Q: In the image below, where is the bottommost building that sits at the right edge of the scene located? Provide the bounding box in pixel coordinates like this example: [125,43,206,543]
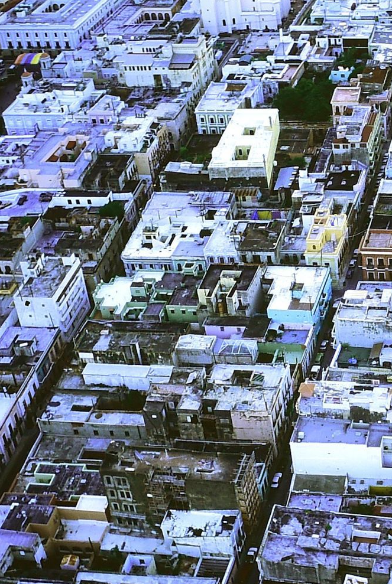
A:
[257,504,392,584]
